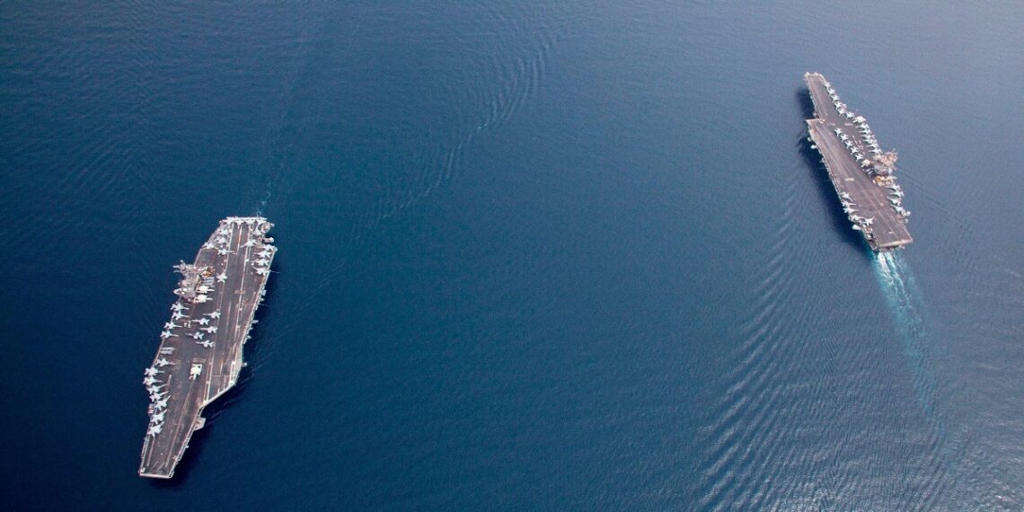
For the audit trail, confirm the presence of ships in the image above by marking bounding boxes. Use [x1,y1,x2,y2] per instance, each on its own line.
[805,75,914,248]
[137,216,280,481]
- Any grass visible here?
No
